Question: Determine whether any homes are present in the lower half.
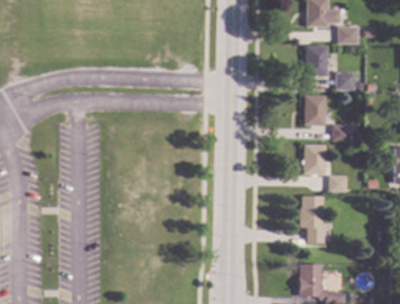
Yes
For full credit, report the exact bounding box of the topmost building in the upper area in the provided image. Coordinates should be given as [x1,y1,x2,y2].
[306,0,340,26]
